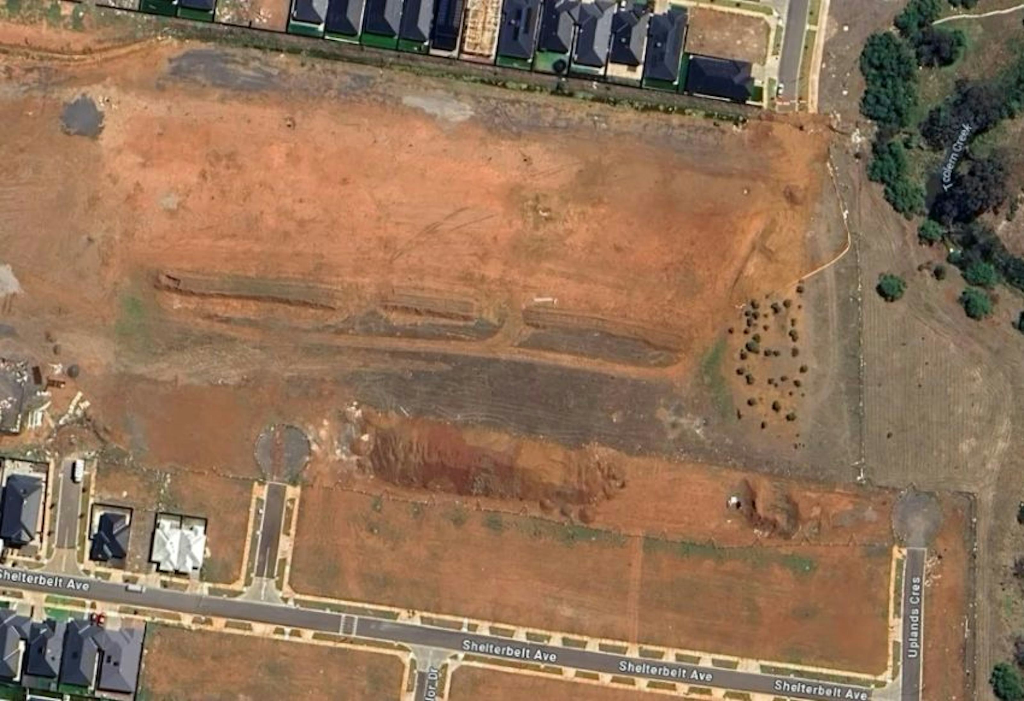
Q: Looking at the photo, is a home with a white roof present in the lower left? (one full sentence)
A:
Yes, you'll find a home with a white roof in the lower left.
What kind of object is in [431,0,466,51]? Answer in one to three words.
house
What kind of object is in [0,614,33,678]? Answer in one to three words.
house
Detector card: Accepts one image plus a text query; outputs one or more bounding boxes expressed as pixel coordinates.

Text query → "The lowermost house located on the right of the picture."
[688,59,757,100]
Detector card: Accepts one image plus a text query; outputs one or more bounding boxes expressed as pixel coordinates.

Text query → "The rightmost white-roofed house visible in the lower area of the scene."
[152,517,209,578]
